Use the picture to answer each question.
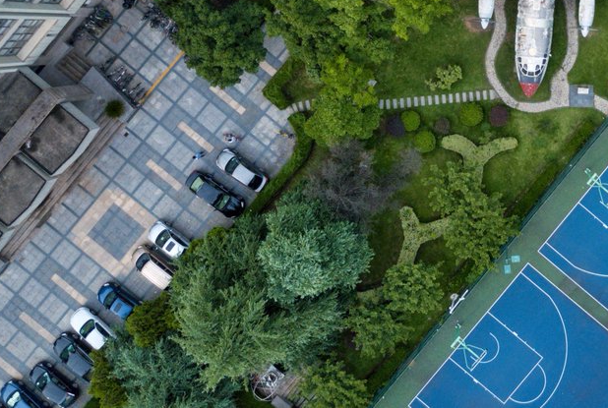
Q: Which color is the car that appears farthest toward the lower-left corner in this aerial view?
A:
blue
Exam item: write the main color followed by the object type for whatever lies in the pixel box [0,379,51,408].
blue car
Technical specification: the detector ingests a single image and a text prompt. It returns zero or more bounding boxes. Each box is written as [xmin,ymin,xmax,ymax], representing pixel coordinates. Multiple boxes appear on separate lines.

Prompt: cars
[0,379,51,408]
[51,332,104,385]
[129,244,182,299]
[68,305,123,358]
[30,361,83,408]
[144,218,197,269]
[187,168,245,219]
[213,145,269,197]
[95,278,149,330]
